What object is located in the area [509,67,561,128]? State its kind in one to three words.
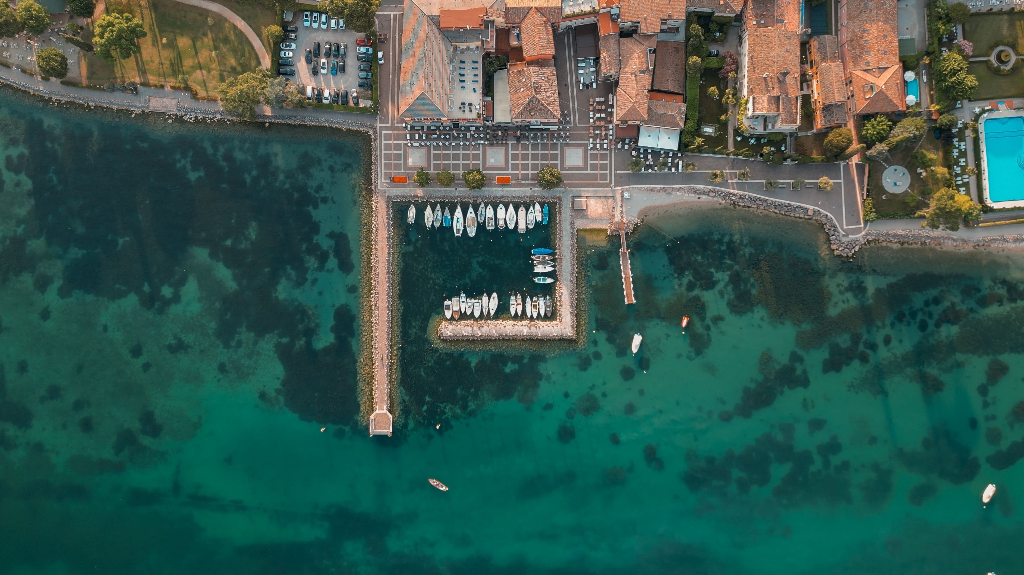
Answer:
house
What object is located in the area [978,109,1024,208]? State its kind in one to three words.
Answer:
swimming pool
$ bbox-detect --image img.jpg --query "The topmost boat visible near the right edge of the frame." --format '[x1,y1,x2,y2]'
[983,483,997,503]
